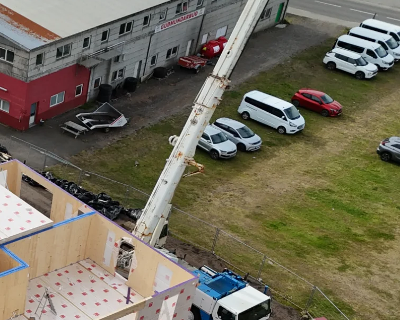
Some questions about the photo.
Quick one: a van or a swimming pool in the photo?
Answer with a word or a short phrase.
van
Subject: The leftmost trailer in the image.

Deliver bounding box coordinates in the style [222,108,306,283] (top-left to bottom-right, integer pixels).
[74,93,125,130]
